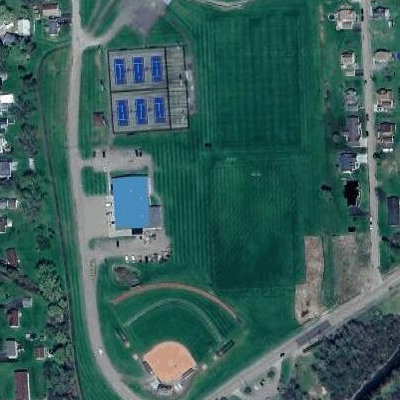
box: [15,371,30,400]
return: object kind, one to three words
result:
building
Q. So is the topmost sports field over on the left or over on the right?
right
